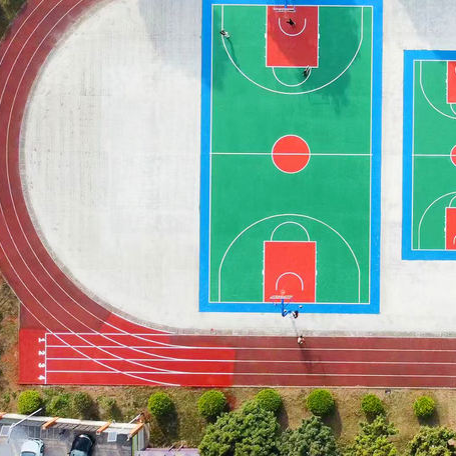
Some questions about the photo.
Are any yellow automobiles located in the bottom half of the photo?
No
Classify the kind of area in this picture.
sports ground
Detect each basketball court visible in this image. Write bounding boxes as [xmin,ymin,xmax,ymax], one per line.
[402,50,456,261]
[200,0,383,314]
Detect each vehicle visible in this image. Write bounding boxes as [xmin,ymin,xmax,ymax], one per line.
[69,432,98,456]
[18,435,47,456]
